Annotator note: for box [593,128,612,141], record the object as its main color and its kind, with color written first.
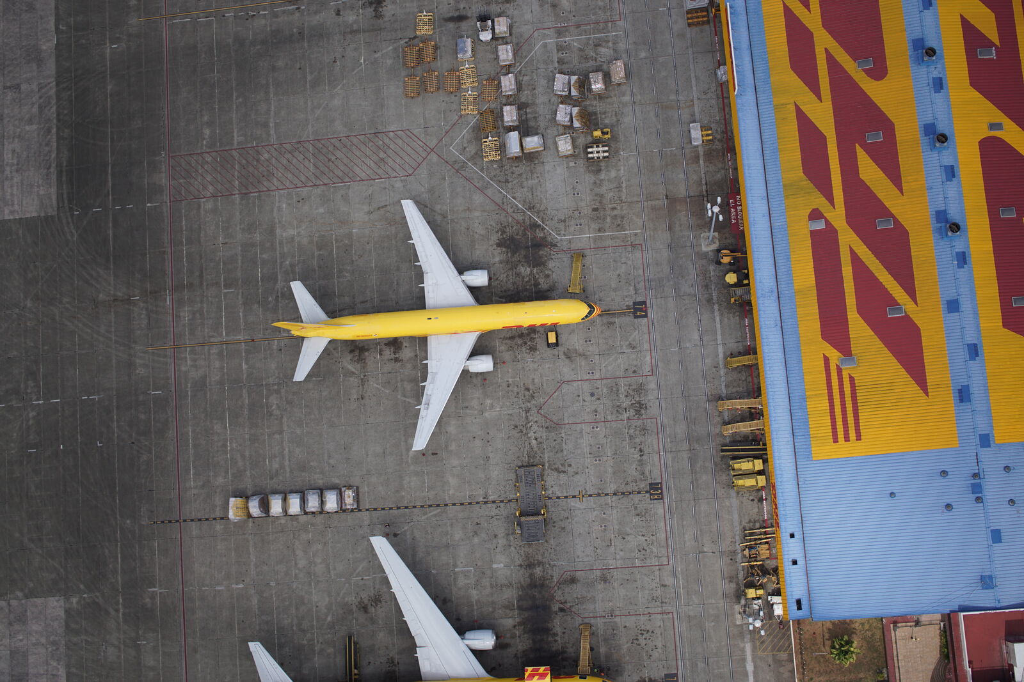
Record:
yellow vehicle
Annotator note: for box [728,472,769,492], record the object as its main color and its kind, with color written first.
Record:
yellow vehicle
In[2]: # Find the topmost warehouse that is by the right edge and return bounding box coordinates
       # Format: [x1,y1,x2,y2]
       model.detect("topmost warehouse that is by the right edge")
[721,0,1024,620]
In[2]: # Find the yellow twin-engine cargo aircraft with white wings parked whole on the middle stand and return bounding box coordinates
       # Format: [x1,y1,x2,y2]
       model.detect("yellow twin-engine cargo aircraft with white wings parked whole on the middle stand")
[272,199,601,450]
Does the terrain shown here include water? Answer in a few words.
No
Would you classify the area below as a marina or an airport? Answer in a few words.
airport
